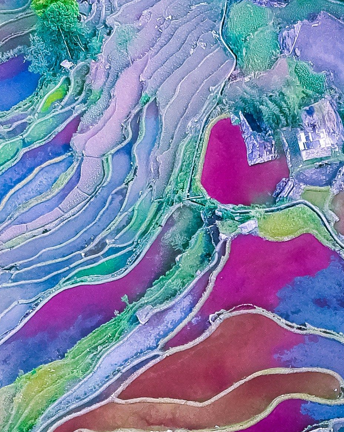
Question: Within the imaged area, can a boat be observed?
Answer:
No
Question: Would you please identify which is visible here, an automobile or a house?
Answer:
house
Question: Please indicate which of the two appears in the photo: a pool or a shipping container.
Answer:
pool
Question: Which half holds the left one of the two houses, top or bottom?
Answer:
top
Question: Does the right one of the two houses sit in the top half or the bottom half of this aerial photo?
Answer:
top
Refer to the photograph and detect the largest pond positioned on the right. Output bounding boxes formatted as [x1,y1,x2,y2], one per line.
[203,119,288,205]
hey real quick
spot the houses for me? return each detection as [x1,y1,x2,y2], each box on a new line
[300,101,344,167]
[231,104,277,171]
